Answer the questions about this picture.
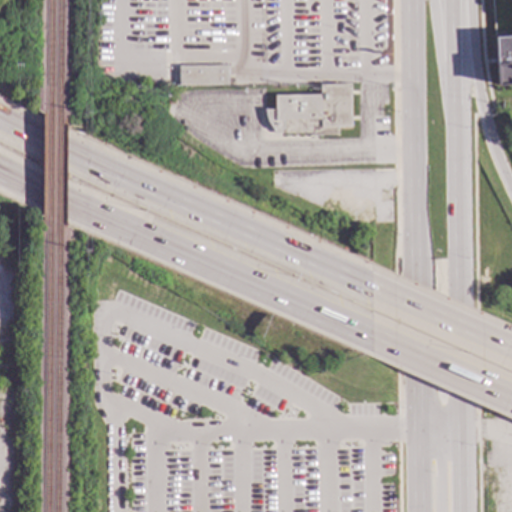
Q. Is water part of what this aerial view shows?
No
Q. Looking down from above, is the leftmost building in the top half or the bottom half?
top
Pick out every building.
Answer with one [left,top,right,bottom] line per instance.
[498,34,512,83]
[268,83,354,134]
[181,64,231,84]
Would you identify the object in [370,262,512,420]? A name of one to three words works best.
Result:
overpass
